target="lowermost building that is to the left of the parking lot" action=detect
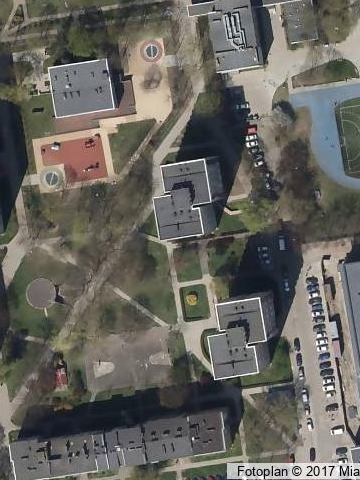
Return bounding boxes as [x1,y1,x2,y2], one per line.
[10,409,232,480]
